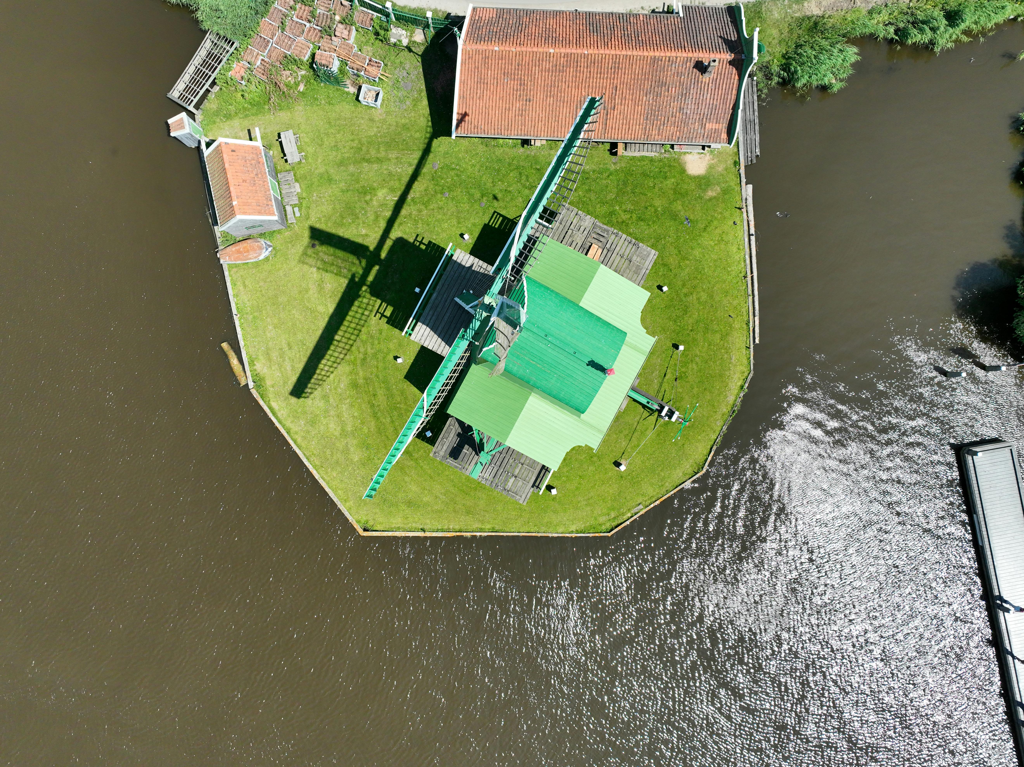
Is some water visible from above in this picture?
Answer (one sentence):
Yes, water shows up in the scene.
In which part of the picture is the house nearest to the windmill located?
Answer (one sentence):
The house nearest to the windmill is located in the top region of the scene.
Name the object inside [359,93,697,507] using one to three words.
windmill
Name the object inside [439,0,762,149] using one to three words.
house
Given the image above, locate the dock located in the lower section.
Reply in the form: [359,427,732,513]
[962,440,1024,767]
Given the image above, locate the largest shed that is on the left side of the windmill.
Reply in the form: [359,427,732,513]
[201,127,286,235]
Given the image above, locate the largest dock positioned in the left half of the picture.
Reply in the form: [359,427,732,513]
[165,28,237,117]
